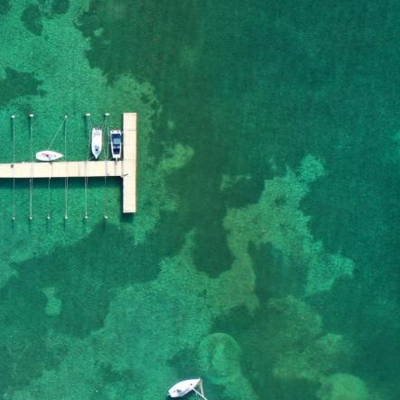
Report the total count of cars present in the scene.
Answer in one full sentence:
Not a single car can be seen.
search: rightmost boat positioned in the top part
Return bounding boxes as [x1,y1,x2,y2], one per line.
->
[109,128,122,159]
